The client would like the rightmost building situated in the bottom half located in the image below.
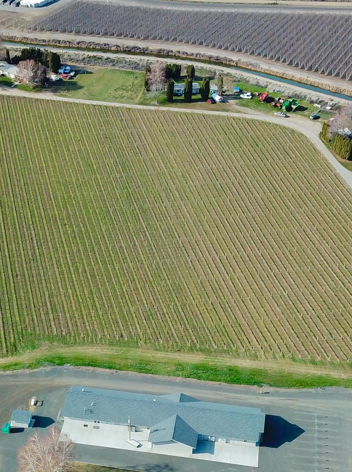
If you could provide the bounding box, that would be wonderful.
[63,386,269,456]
